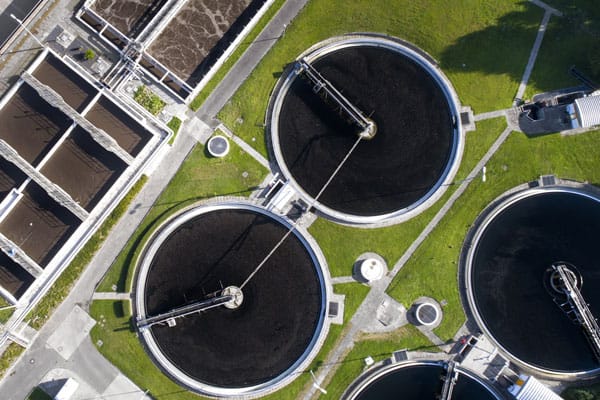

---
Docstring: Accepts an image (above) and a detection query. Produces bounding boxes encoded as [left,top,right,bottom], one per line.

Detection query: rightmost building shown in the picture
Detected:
[568,95,600,129]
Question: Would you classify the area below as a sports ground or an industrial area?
industrial area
